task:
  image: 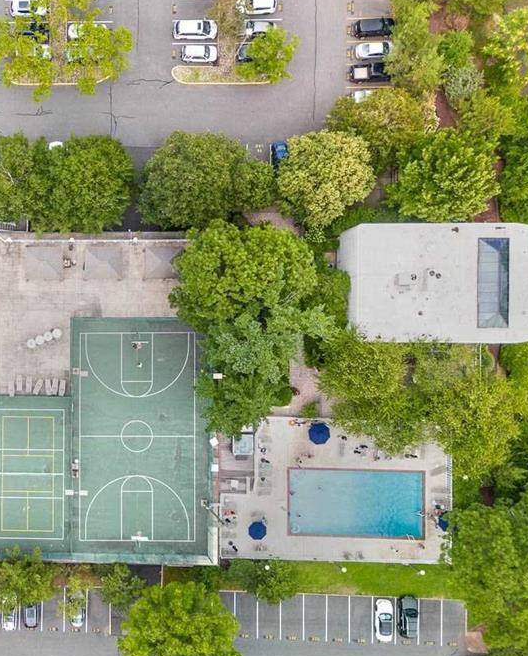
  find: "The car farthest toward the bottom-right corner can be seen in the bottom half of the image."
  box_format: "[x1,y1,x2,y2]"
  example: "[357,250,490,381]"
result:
[397,598,419,639]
